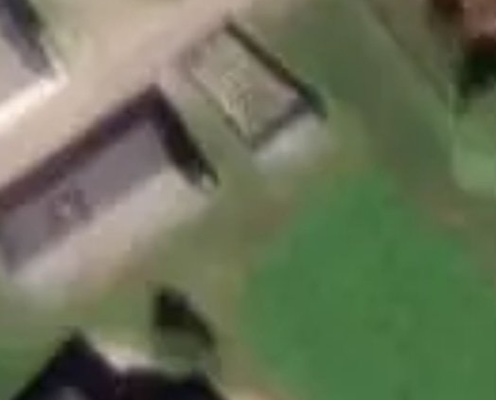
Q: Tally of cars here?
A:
0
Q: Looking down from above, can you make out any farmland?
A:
Yes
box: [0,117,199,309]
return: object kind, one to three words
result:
barn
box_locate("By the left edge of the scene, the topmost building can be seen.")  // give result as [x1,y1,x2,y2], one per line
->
[0,0,64,131]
